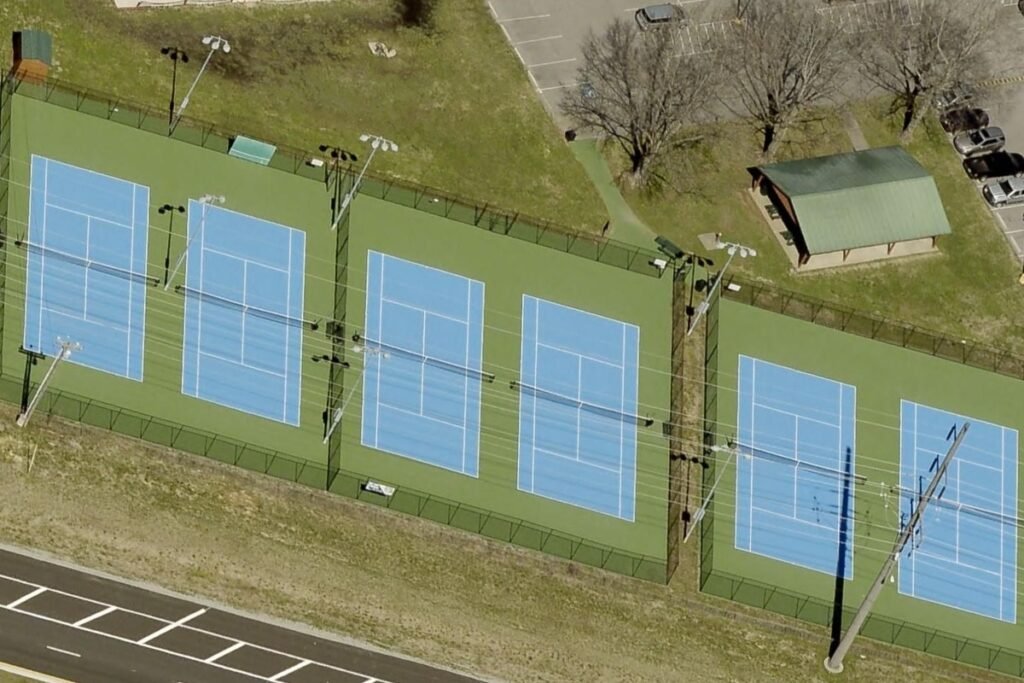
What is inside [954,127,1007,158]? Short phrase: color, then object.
gray car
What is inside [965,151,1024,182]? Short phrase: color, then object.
black truck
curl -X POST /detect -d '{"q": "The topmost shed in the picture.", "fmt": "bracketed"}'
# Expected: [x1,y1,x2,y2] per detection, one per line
[13,30,54,84]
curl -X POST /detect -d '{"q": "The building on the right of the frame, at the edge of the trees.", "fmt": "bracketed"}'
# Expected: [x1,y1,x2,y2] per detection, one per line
[746,145,952,275]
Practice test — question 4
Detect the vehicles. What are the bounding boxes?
[937,104,991,136]
[635,2,686,31]
[965,151,1024,182]
[954,127,1007,158]
[982,178,1024,209]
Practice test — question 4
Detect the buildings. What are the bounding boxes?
[13,30,54,84]
[746,145,952,275]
